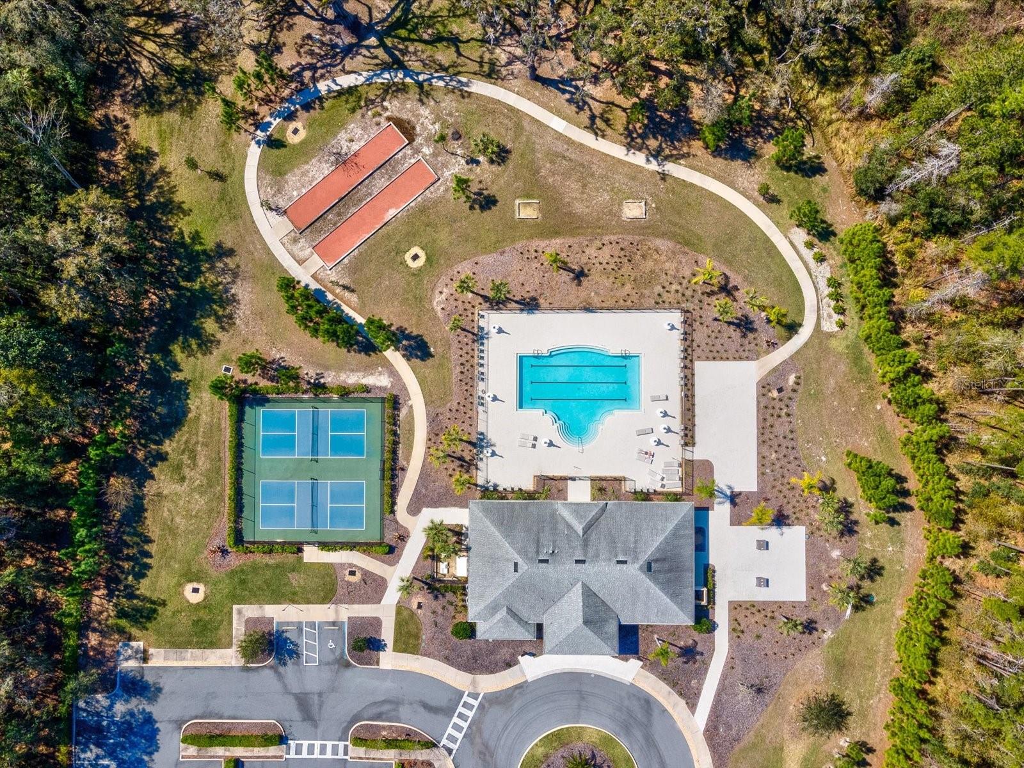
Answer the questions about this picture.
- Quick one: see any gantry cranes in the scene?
No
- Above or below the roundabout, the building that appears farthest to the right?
above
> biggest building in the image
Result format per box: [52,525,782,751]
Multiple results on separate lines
[468,500,695,656]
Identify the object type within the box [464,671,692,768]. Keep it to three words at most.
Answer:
roundabout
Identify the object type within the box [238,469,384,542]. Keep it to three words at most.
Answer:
sports court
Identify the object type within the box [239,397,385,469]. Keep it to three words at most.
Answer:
sports court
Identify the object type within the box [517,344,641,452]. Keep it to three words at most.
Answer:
swimming pool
